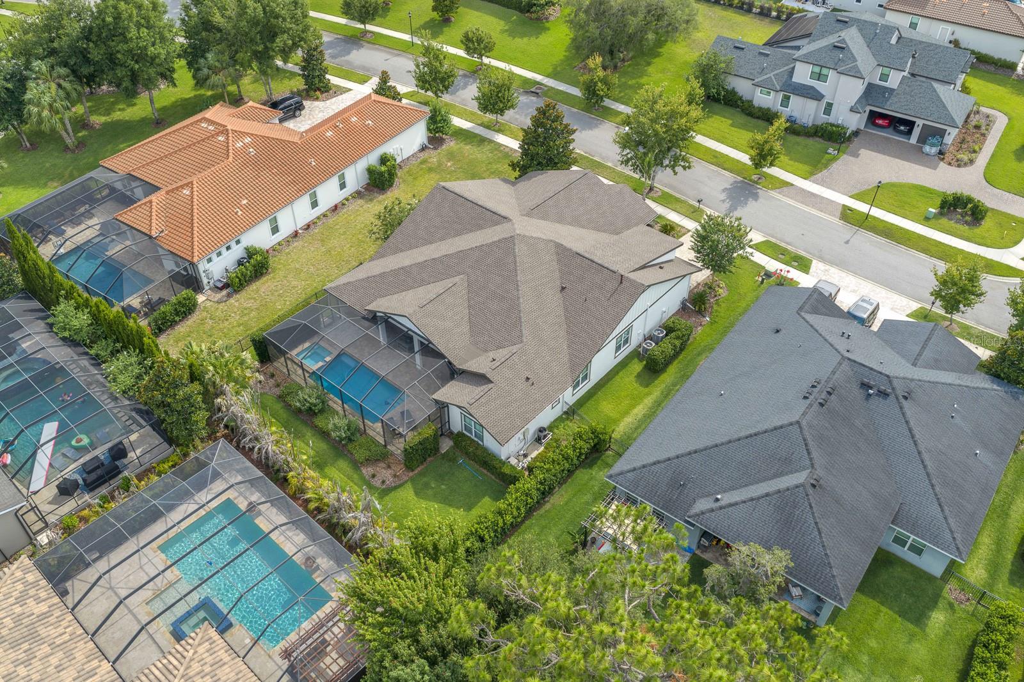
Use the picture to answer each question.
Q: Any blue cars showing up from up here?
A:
No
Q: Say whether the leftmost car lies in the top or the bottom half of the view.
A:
top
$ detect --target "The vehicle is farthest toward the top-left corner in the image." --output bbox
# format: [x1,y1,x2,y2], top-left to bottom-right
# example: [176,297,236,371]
[273,95,311,123]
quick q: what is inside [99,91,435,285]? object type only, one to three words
house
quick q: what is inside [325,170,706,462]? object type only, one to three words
house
